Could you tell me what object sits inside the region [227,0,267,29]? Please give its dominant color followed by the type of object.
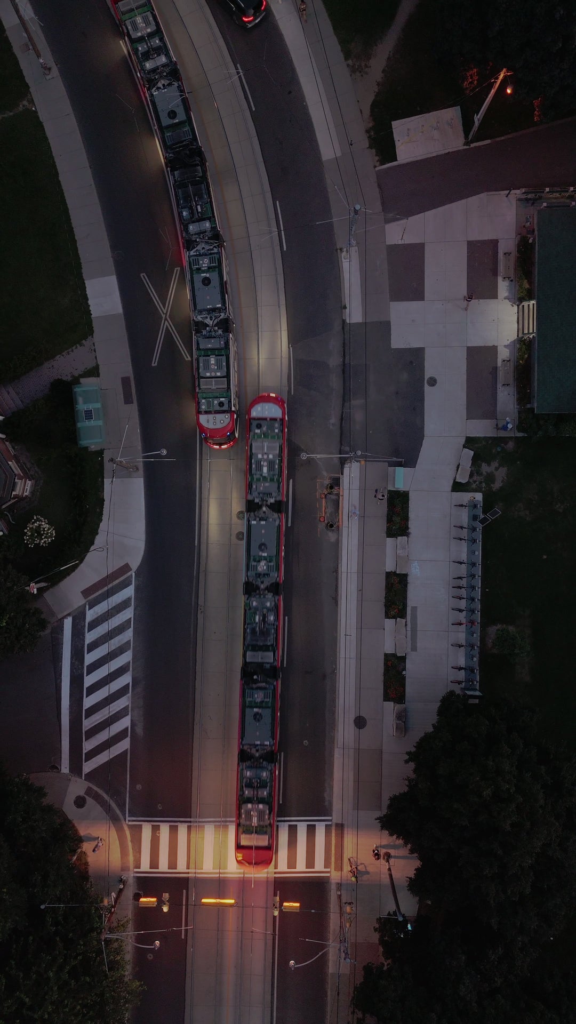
black car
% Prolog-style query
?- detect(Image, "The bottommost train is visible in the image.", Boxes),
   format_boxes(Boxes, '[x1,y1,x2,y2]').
[236,396,291,903]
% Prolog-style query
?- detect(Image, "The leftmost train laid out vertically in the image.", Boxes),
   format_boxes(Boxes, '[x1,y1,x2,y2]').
[111,0,241,447]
